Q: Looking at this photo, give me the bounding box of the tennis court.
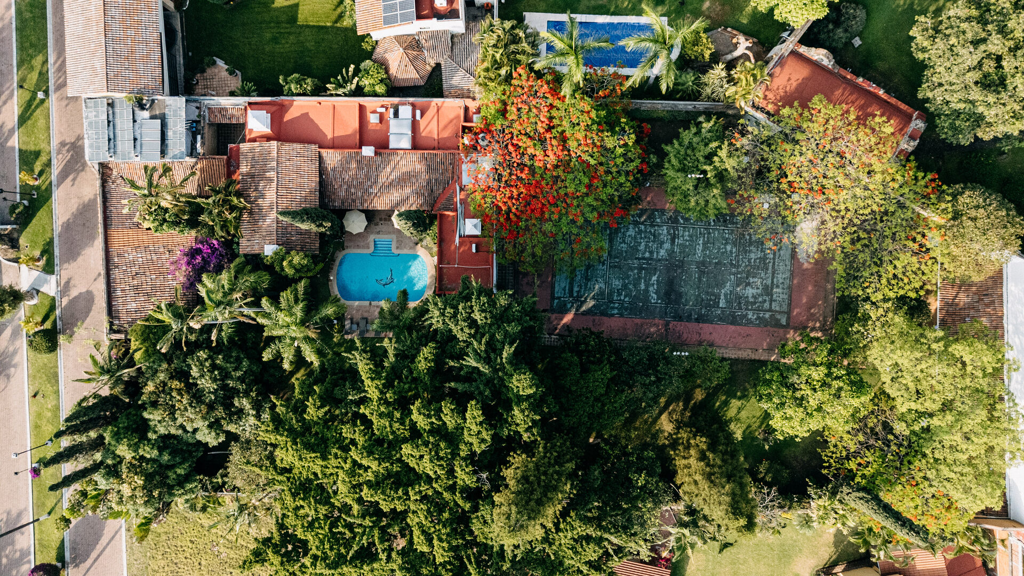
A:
[520,184,837,349]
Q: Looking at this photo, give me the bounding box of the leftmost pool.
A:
[329,234,436,308]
